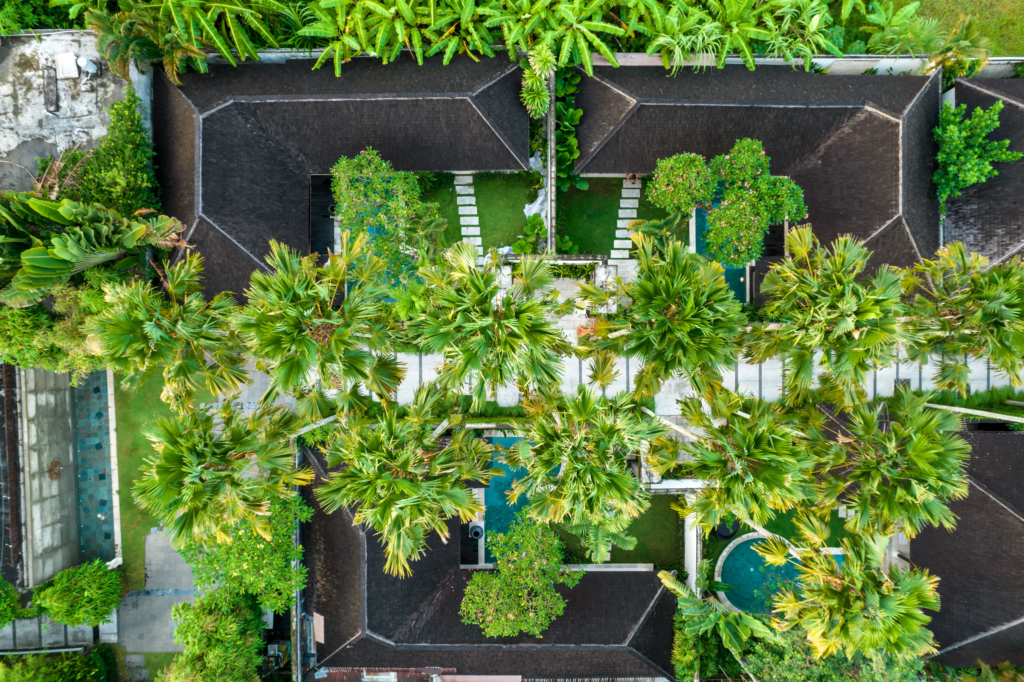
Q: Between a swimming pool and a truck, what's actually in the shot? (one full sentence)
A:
Looking from above, you can make out a swimming pool.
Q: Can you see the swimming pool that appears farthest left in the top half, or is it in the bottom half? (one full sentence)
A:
It is in the bottom half that the swimming pool that appears farthest left appears.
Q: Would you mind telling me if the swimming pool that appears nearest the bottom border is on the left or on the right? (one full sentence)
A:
You can find the swimming pool that appears nearest the bottom border on the right side of the picture.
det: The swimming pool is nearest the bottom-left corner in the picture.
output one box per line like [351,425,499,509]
[74,361,121,573]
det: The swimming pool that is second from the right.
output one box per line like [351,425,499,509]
[661,175,753,288]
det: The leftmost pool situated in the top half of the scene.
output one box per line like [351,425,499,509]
[340,171,436,307]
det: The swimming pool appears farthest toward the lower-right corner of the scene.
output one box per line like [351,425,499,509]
[715,532,853,620]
